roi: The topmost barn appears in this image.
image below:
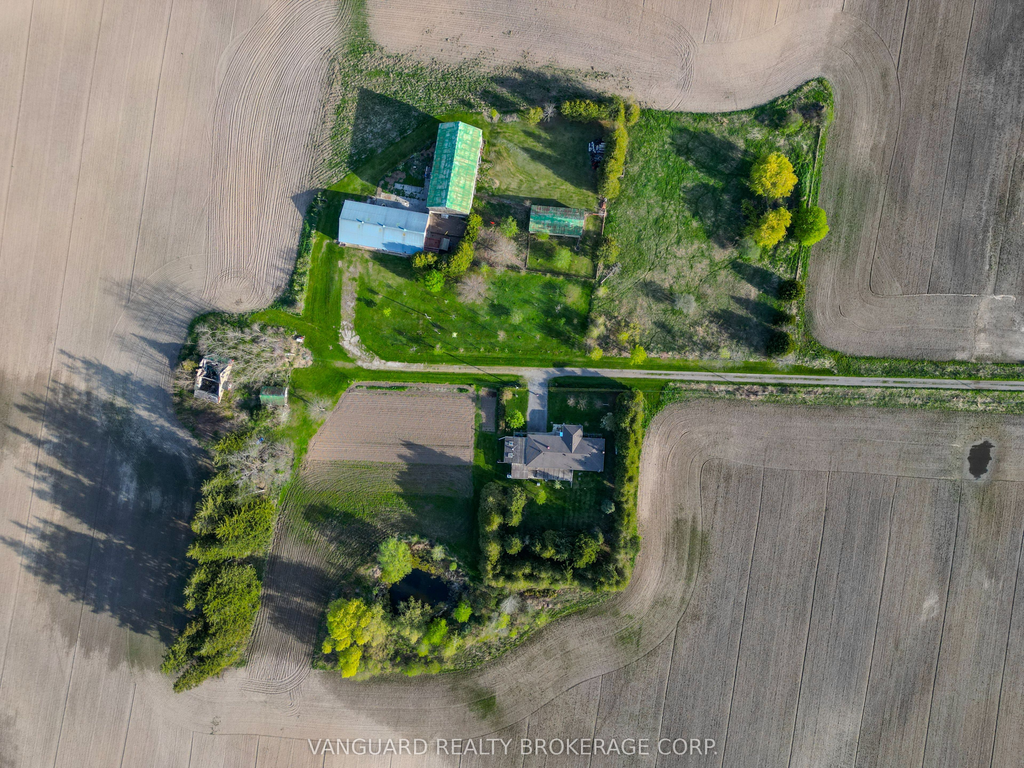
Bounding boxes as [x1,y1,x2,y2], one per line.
[426,121,483,217]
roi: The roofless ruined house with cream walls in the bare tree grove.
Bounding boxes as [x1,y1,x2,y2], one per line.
[194,353,233,404]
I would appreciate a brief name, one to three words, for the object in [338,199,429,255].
shed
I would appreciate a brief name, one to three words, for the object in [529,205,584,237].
shed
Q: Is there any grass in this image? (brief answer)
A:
Yes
